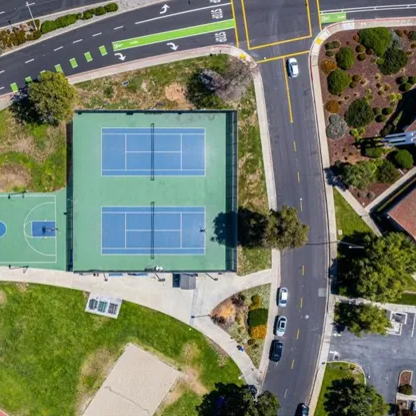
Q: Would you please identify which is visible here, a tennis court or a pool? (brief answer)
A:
tennis court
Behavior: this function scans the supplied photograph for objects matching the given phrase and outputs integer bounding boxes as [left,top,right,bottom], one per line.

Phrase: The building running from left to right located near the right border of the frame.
[382,130,416,146]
